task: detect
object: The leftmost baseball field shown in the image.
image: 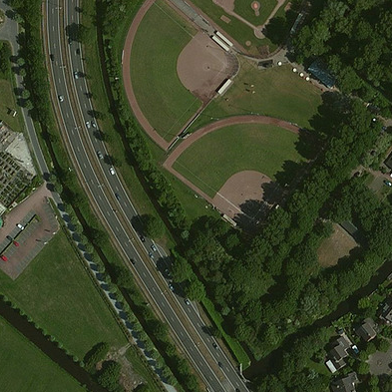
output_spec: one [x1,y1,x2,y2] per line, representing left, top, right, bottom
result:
[123,0,238,150]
